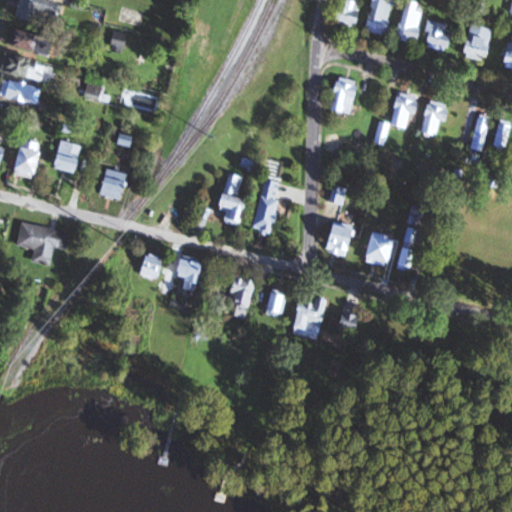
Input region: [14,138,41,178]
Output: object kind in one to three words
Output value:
house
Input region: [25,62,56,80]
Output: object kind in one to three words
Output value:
house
